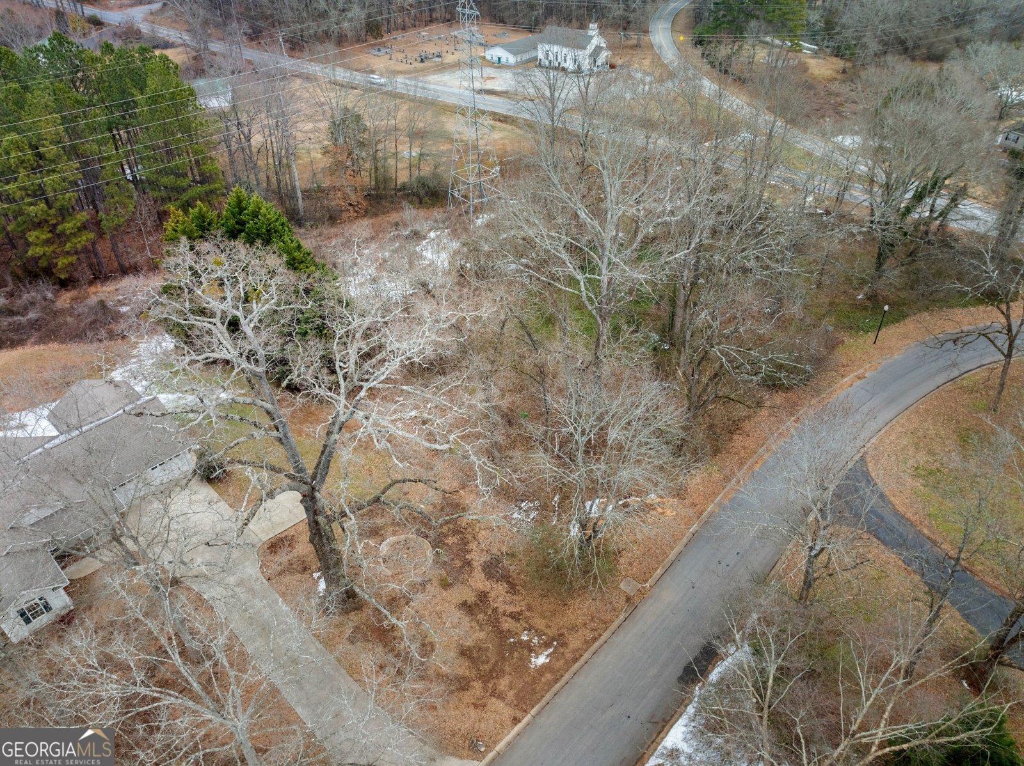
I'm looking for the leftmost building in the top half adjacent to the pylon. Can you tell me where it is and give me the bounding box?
[484,42,539,66]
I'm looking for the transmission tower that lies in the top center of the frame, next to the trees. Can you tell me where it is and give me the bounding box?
[439,0,502,217]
